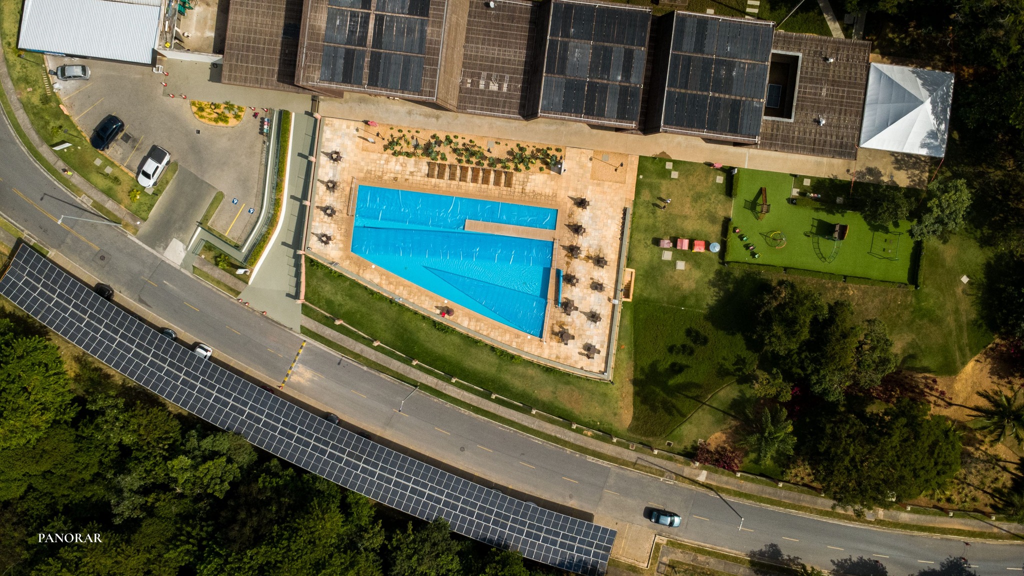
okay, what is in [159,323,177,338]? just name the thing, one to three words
car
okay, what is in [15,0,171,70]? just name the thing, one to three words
shed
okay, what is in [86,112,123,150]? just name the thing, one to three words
car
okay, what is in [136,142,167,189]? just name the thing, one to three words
truck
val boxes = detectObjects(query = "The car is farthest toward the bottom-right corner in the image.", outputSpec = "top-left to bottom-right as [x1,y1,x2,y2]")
[648,508,684,531]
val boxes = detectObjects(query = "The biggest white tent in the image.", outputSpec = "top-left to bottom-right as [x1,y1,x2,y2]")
[850,62,956,200]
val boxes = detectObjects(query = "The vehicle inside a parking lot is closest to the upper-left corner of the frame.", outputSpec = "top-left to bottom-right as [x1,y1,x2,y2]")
[52,62,89,80]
